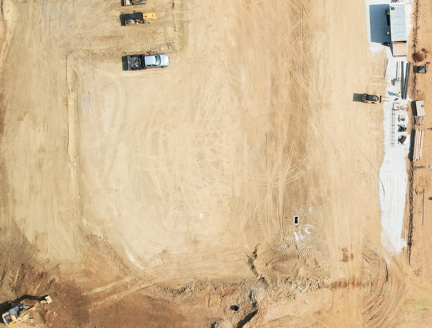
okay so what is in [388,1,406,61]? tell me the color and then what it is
white trailer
